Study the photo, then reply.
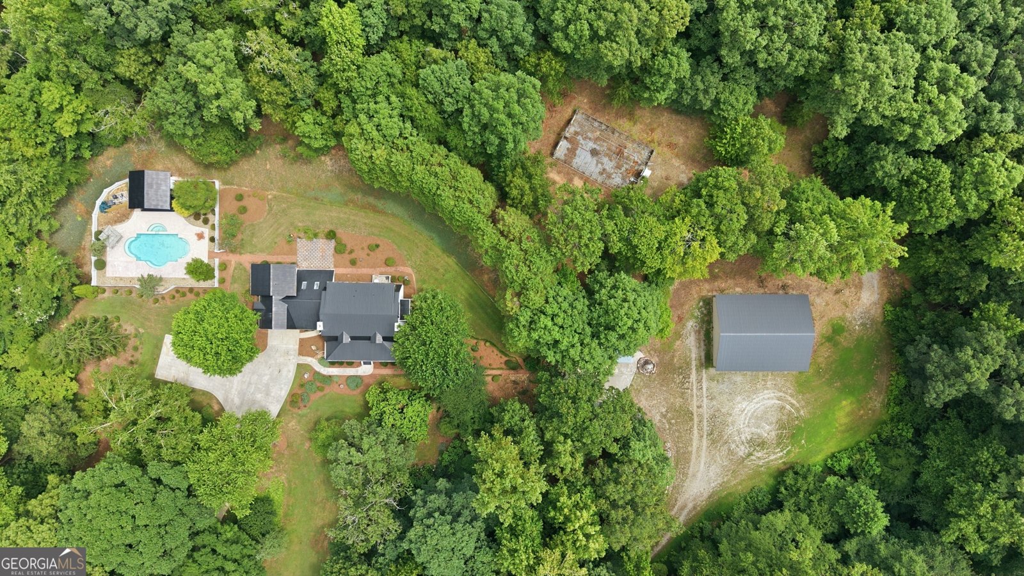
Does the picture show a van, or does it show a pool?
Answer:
pool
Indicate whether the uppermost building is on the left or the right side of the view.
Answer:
left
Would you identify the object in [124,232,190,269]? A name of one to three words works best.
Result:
swimming pool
